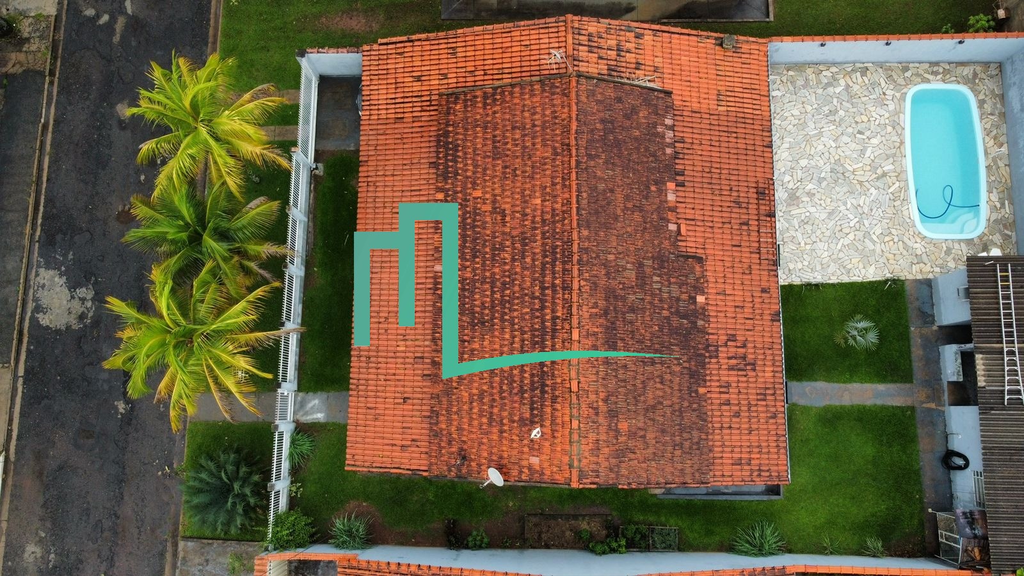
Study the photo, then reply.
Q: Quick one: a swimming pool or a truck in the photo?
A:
swimming pool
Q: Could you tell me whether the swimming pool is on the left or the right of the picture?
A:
right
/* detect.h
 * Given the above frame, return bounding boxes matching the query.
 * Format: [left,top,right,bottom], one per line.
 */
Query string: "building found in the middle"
[347,9,793,493]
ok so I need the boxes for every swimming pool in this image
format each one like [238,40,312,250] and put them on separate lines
[906,86,987,237]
